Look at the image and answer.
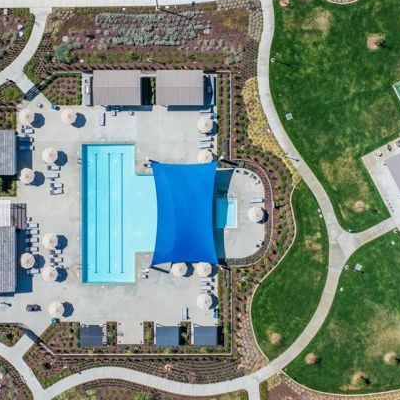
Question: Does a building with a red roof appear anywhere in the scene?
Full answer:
No, I find no building with a red roof anywhere in the image.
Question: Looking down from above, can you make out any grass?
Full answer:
Yes, there's grass in this view.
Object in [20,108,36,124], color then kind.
white umbrella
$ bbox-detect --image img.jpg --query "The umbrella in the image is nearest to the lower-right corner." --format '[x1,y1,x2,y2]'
[198,294,214,310]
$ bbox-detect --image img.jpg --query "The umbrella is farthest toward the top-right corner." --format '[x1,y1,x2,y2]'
[198,117,214,133]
